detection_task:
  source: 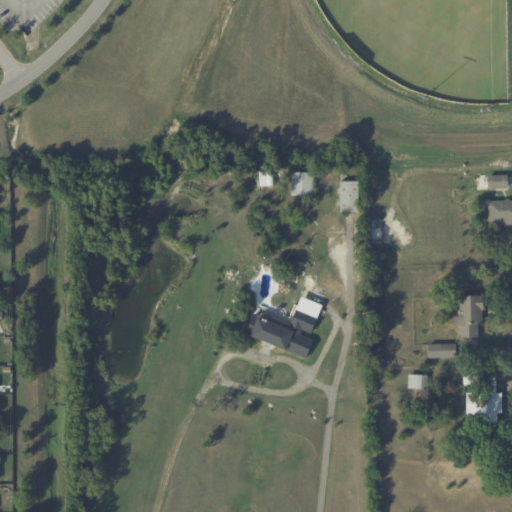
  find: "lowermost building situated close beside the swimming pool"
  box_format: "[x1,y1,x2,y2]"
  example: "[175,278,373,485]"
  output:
[250,310,318,358]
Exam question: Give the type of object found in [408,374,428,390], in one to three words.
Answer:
shed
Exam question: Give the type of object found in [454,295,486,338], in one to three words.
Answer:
house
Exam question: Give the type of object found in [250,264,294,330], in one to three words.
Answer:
swimming pool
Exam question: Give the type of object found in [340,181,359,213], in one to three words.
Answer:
building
